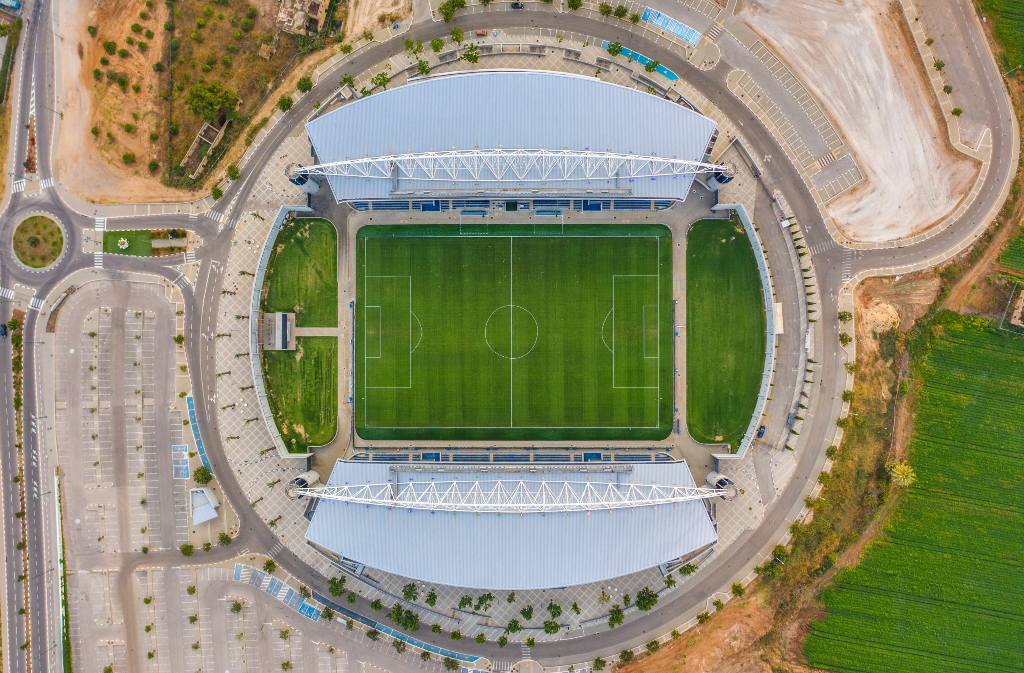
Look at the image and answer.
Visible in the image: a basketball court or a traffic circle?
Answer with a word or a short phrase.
traffic circle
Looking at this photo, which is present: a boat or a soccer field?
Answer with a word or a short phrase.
soccer field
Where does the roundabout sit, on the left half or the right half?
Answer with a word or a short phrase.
left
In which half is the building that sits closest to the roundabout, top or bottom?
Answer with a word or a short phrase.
top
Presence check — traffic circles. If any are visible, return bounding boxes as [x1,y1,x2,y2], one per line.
[7,211,69,273]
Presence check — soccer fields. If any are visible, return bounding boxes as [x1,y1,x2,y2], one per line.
[356,225,673,440]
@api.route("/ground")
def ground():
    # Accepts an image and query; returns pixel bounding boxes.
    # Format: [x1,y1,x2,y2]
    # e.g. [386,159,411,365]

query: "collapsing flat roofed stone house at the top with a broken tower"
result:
[276,0,327,38]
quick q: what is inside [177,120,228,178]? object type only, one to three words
building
